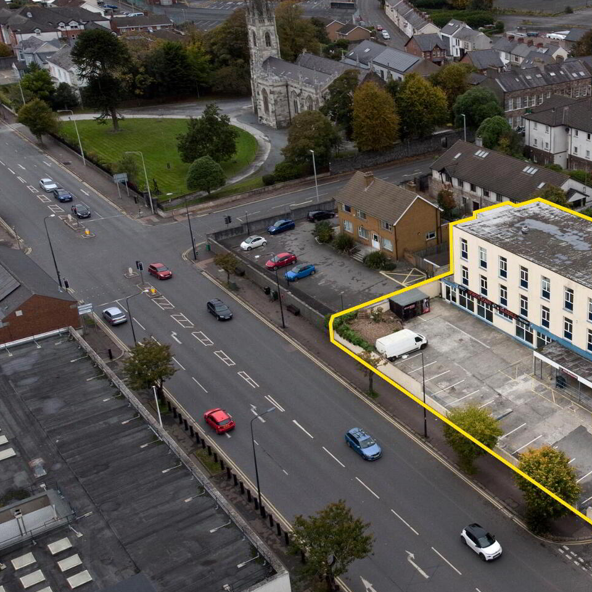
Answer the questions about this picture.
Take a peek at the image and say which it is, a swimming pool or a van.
van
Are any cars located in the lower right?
Yes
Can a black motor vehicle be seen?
Yes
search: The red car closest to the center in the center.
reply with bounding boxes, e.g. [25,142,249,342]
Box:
[264,252,298,271]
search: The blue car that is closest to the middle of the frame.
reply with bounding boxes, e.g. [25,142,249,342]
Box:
[282,262,318,282]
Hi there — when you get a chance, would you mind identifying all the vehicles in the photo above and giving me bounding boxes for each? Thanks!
[69,204,90,220]
[282,262,318,282]
[200,412,236,439]
[375,325,428,357]
[52,190,72,205]
[202,302,234,324]
[340,426,385,462]
[376,23,383,30]
[265,219,296,235]
[237,232,269,250]
[458,524,505,567]
[264,252,298,271]
[101,306,130,328]
[38,179,59,193]
[304,208,338,224]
